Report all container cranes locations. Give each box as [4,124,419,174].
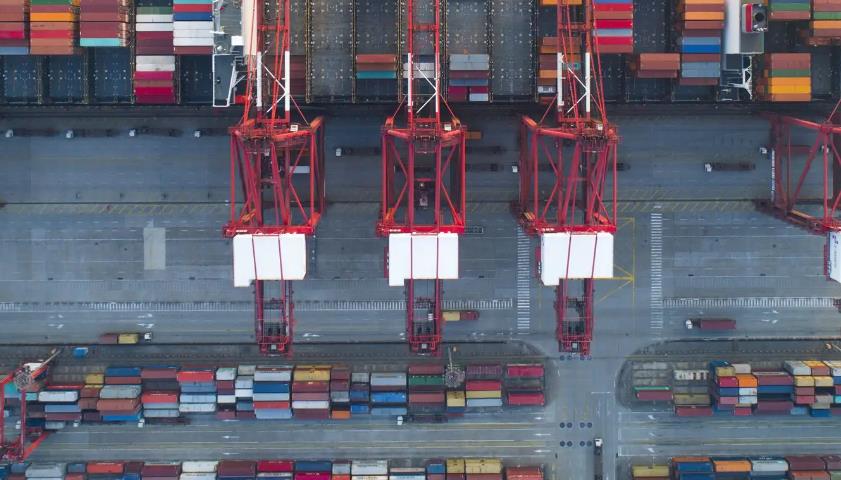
[378,0,469,364]
[503,0,619,363]
[227,0,343,364]
[747,109,841,286]
[0,358,62,464]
